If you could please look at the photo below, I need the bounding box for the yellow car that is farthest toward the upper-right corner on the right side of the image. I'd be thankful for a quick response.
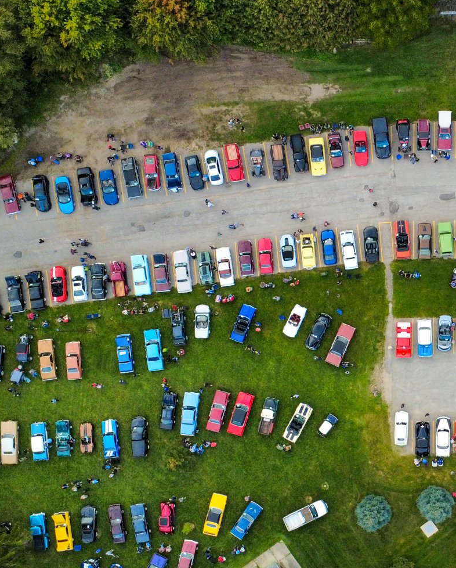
[309,137,326,177]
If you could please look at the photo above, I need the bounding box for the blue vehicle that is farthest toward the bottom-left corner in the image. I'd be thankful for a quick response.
[30,512,49,552]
